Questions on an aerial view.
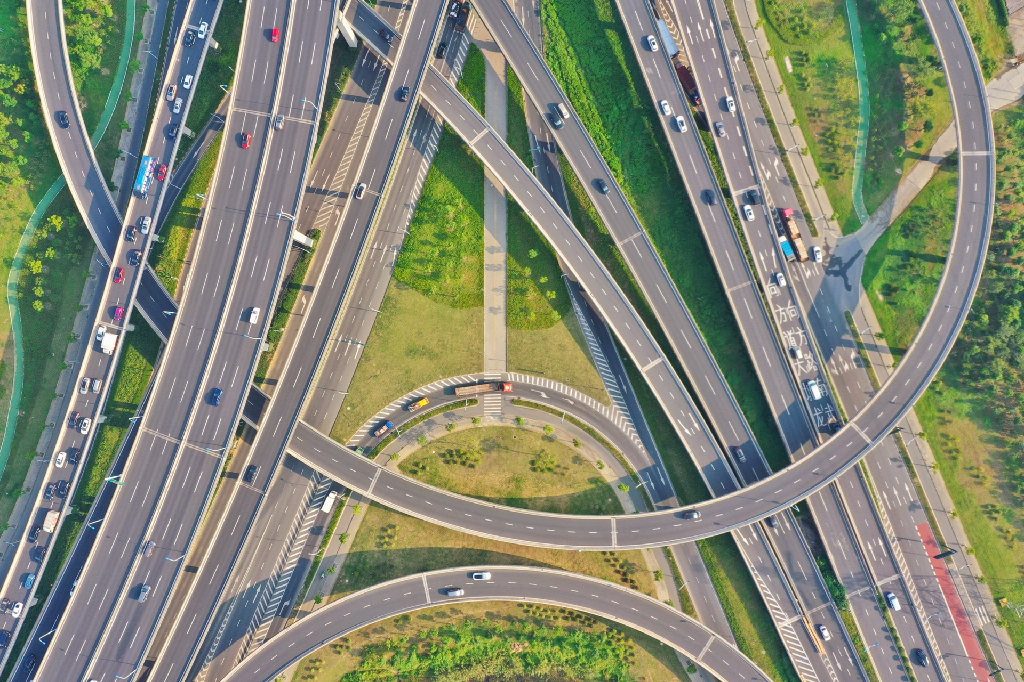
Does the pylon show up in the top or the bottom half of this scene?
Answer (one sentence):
The pylon is in the bottom half of the image.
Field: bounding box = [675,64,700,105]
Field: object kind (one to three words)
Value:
truck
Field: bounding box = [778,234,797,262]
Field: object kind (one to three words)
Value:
vehicle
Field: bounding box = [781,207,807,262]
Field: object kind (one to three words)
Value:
truck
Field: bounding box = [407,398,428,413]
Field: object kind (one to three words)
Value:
vehicle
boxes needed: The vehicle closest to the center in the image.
[454,382,511,395]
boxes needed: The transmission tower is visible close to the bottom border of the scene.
[999,602,1024,654]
